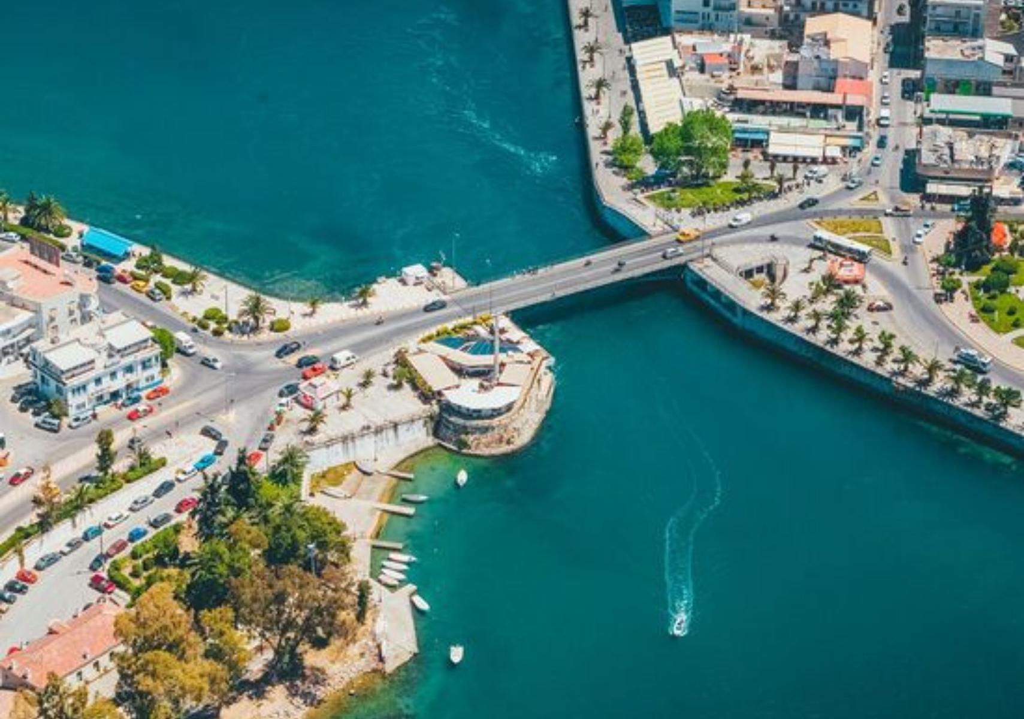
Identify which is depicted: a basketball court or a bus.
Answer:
bus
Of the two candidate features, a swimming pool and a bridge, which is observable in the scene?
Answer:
bridge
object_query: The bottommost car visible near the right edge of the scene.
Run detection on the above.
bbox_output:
[957,348,989,370]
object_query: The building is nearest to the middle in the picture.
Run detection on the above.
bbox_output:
[407,316,545,420]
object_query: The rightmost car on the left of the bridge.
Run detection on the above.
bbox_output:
[423,301,447,313]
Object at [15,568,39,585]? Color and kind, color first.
red car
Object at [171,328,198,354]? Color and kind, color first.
white truck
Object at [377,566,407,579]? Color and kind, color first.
white boat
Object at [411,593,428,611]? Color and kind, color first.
white boat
